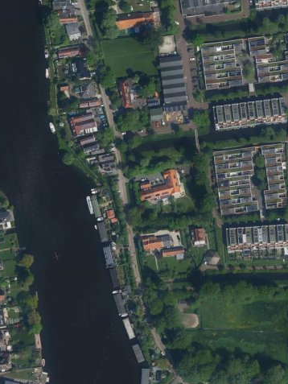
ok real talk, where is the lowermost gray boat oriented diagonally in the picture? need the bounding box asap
[130,344,147,365]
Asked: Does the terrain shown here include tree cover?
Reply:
Yes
